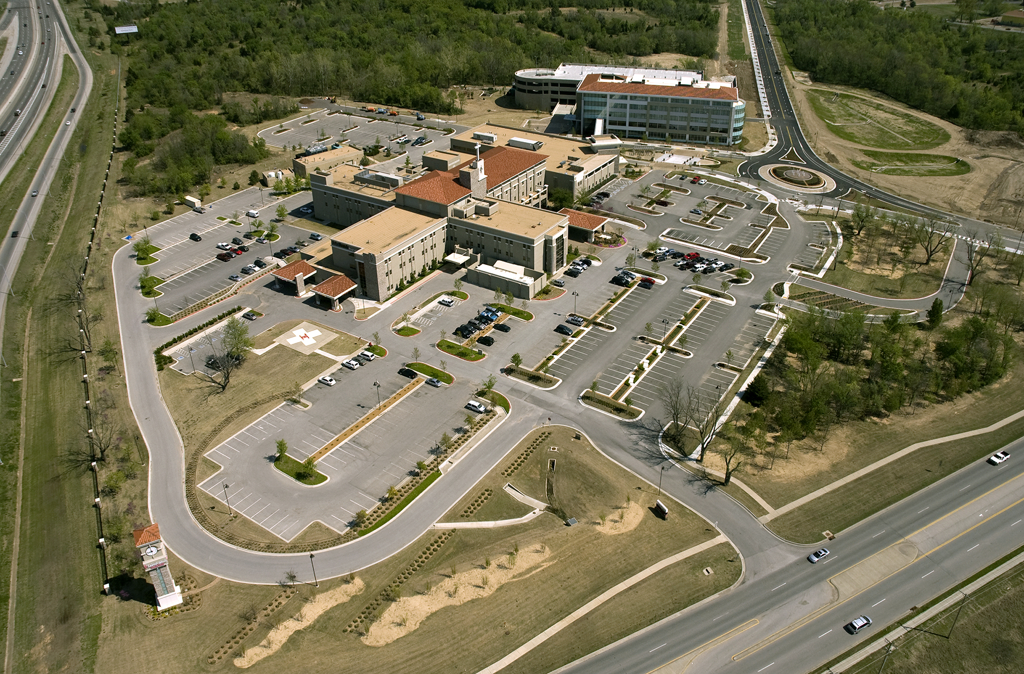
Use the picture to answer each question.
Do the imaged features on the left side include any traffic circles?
No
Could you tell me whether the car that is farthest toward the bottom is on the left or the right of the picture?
right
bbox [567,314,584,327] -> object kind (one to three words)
vehicle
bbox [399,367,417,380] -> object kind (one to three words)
vehicle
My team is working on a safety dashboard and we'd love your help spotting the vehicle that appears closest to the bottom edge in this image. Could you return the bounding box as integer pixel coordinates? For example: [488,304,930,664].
[846,617,873,637]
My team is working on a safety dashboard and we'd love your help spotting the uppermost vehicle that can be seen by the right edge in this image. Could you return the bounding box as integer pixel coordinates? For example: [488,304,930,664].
[988,450,1012,467]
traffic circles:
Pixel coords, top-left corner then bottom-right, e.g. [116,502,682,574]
[759,165,836,192]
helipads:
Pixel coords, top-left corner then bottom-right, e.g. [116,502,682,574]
[274,321,338,353]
